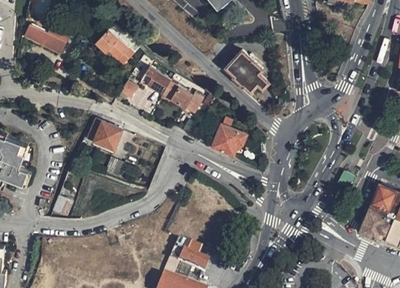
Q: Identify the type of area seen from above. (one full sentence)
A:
This image shows a residential area.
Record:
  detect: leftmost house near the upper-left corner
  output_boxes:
[25,22,70,54]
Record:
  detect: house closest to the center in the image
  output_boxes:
[212,116,249,158]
